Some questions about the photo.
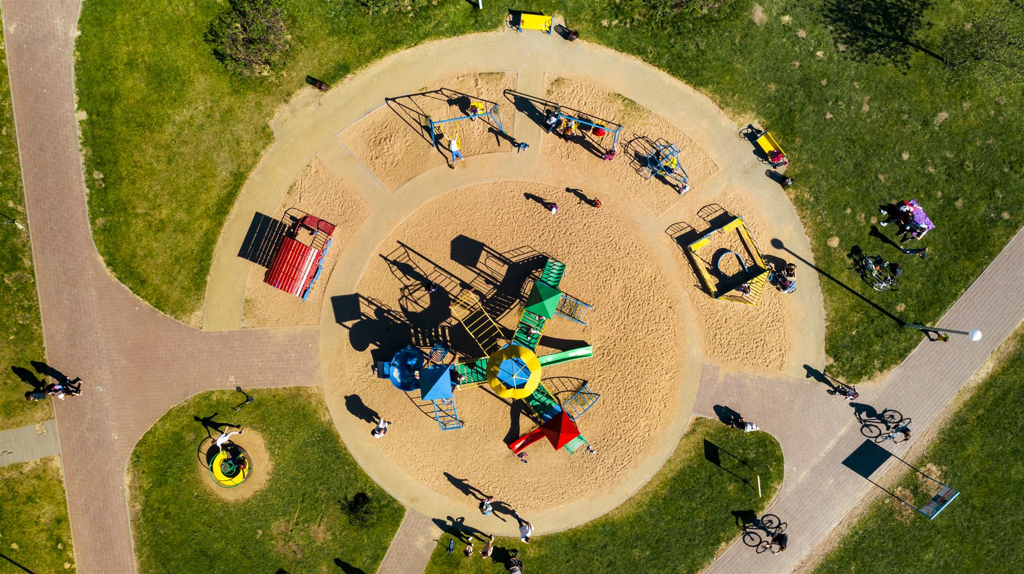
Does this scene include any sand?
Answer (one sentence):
Yes, sand can be seen from above here.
